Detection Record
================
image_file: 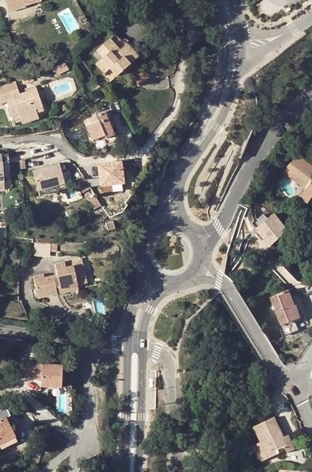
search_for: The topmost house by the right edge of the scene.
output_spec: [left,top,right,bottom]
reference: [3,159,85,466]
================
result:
[286,158,312,203]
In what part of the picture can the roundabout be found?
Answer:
center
